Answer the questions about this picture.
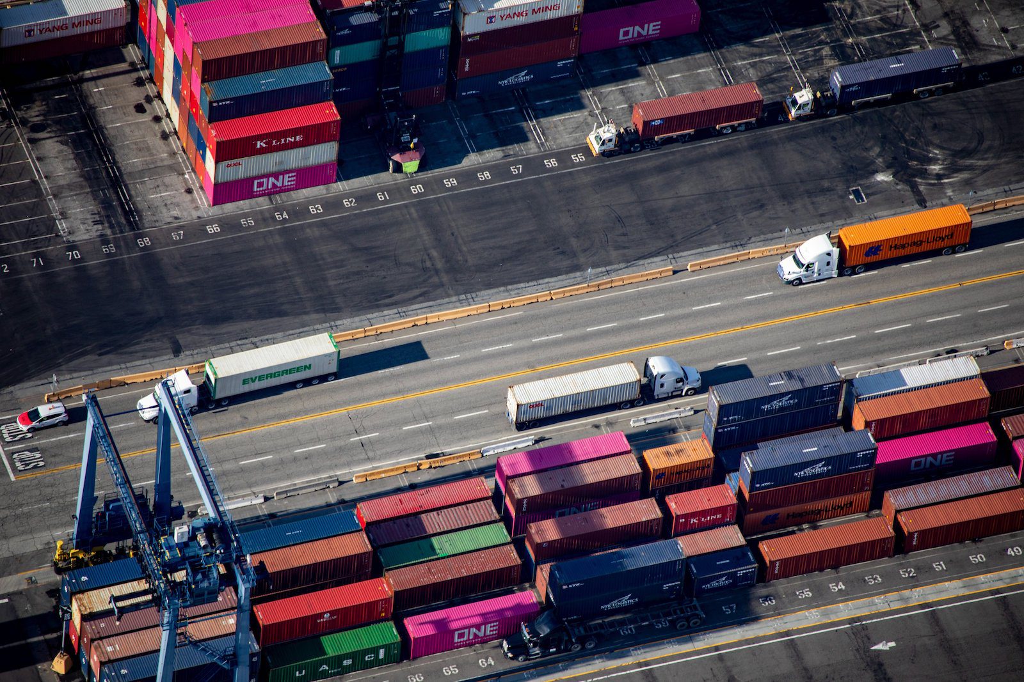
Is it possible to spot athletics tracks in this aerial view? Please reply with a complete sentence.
No, I can't see a single athletics track in this photo.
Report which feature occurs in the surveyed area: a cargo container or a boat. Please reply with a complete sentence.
The image shows a cargo container.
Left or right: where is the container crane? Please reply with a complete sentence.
It is on the left.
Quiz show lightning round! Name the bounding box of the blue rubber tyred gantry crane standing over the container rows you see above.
[46,367,274,682]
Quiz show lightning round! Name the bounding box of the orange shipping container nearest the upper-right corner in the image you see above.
[838,205,970,265]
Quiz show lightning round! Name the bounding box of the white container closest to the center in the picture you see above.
[504,361,641,424]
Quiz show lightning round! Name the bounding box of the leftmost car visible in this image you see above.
[14,400,66,431]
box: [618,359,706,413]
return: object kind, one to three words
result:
truck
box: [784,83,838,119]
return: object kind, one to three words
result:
truck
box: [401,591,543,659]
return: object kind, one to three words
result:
shipping container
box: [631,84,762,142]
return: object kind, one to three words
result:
shipping container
